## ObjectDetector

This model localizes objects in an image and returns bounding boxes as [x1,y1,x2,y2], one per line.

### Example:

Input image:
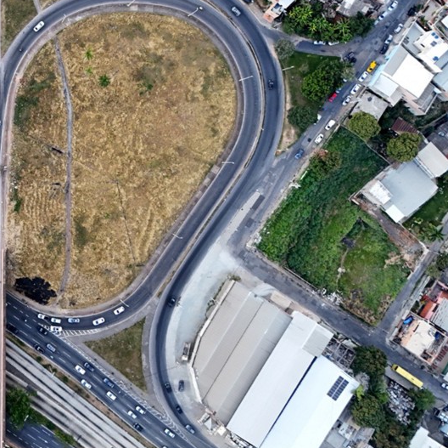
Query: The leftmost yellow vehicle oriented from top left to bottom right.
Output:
[392,363,429,391]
